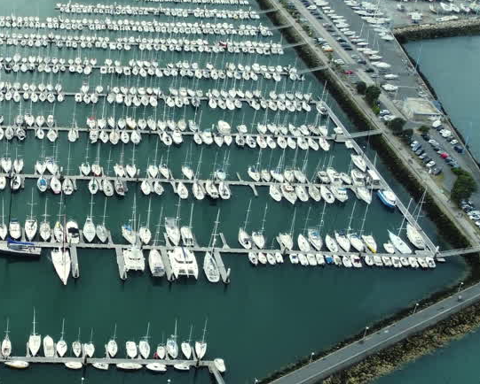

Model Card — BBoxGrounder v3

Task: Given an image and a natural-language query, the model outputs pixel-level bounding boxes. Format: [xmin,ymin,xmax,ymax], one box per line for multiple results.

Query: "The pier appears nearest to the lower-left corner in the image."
[0,342,213,367]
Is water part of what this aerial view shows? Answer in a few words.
Yes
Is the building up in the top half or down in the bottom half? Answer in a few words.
top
